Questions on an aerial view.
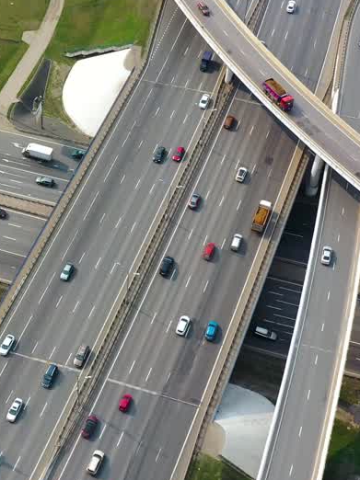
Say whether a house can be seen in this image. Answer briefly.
No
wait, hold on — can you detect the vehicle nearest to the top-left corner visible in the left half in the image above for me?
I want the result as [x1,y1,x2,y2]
[23,142,52,159]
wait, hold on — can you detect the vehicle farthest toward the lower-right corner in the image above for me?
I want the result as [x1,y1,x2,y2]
[253,326,276,342]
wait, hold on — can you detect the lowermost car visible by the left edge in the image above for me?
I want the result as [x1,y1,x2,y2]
[7,399,24,422]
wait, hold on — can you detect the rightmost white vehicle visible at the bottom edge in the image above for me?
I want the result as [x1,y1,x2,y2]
[86,451,105,477]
